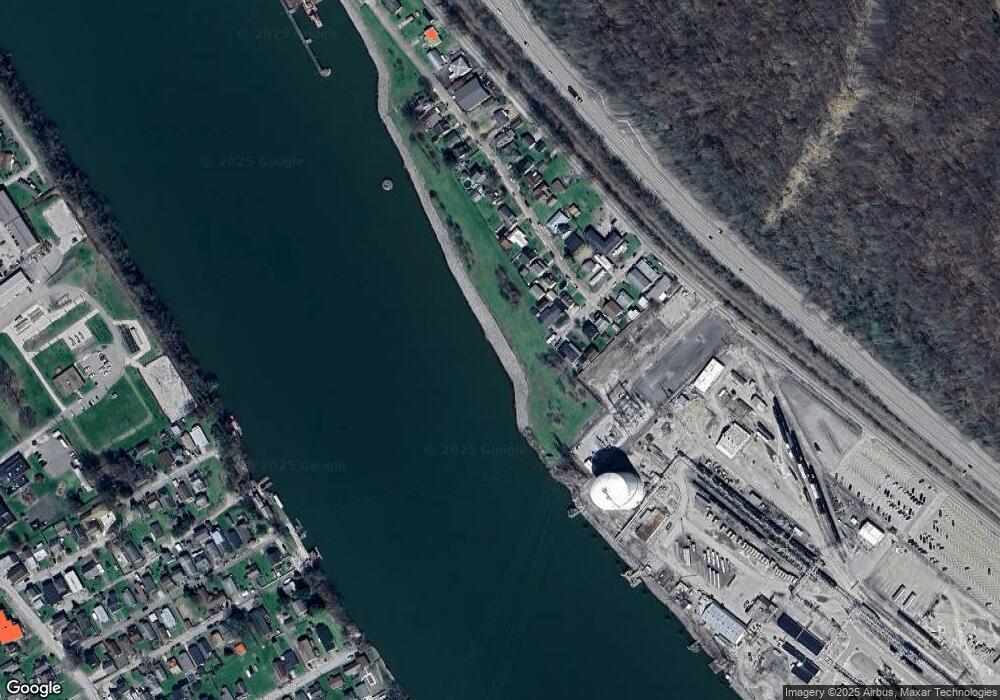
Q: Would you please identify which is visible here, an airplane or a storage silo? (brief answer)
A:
storage silo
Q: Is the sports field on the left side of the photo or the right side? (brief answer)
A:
left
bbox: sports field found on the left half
[66,371,159,460]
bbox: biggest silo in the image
[591,472,644,512]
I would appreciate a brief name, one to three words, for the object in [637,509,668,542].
shed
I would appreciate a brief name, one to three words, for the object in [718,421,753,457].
building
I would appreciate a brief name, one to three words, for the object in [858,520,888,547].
building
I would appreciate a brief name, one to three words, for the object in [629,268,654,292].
house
